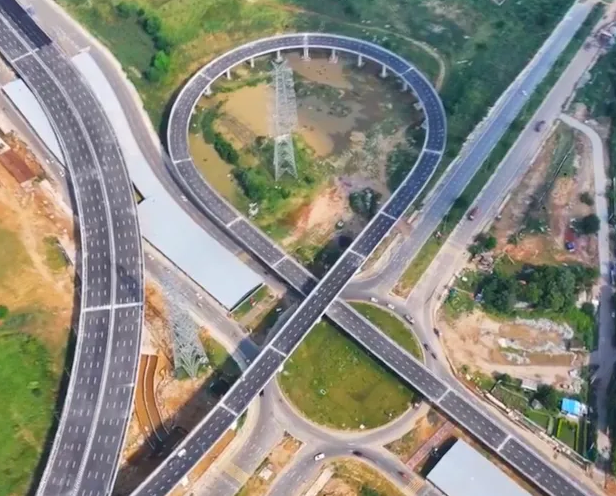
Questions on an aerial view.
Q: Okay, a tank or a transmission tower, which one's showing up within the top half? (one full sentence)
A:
What appears within the top half is a transmission tower.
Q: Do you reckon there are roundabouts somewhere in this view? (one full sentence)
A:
Yes, looking at the shot, I can spot a roundabout.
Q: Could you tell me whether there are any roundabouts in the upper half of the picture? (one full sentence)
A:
No, in the upper half of the picture there is no roundabout.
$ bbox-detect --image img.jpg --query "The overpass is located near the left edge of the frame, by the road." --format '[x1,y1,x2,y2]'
[0,0,143,496]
